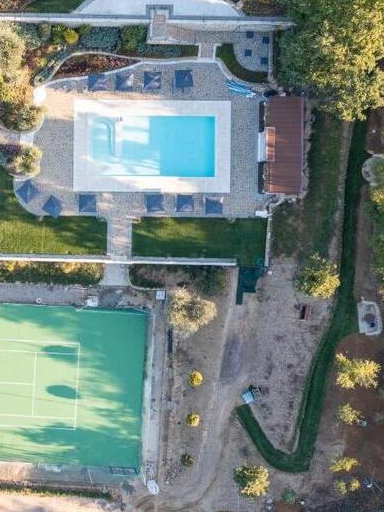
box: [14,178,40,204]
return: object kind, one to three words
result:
umbrella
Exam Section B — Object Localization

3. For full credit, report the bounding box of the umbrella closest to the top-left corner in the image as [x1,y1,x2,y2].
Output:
[86,72,105,91]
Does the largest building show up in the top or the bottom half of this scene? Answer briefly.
top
